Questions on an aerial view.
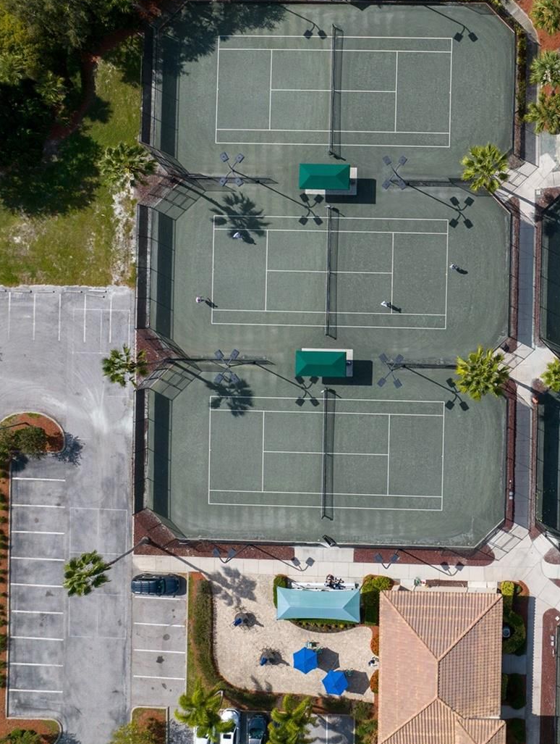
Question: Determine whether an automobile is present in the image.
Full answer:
Yes, the frame does contain an automobile.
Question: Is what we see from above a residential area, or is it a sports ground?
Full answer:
This looks like a sports ground.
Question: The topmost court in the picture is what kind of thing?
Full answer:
The topmost court appears to be a tennis court.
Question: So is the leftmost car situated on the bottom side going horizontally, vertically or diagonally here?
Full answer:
In this picture, the leftmost car situated on the bottom side is oriented horizontally.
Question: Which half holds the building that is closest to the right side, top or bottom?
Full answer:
The bottom half of the photo is where the building that is closest to the right side is.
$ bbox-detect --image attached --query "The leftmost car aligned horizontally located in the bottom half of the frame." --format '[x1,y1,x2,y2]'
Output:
[133,573,186,598]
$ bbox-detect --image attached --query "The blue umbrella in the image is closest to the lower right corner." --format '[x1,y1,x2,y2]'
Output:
[321,669,347,695]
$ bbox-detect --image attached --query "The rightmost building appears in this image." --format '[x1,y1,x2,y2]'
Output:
[377,585,506,744]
